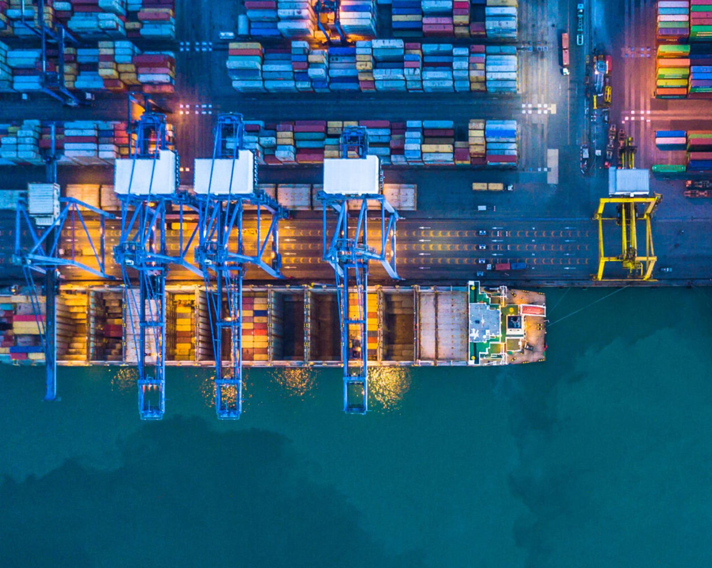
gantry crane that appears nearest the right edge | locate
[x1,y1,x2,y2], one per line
[588,134,657,279]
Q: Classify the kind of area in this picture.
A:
port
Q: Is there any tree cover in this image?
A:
No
